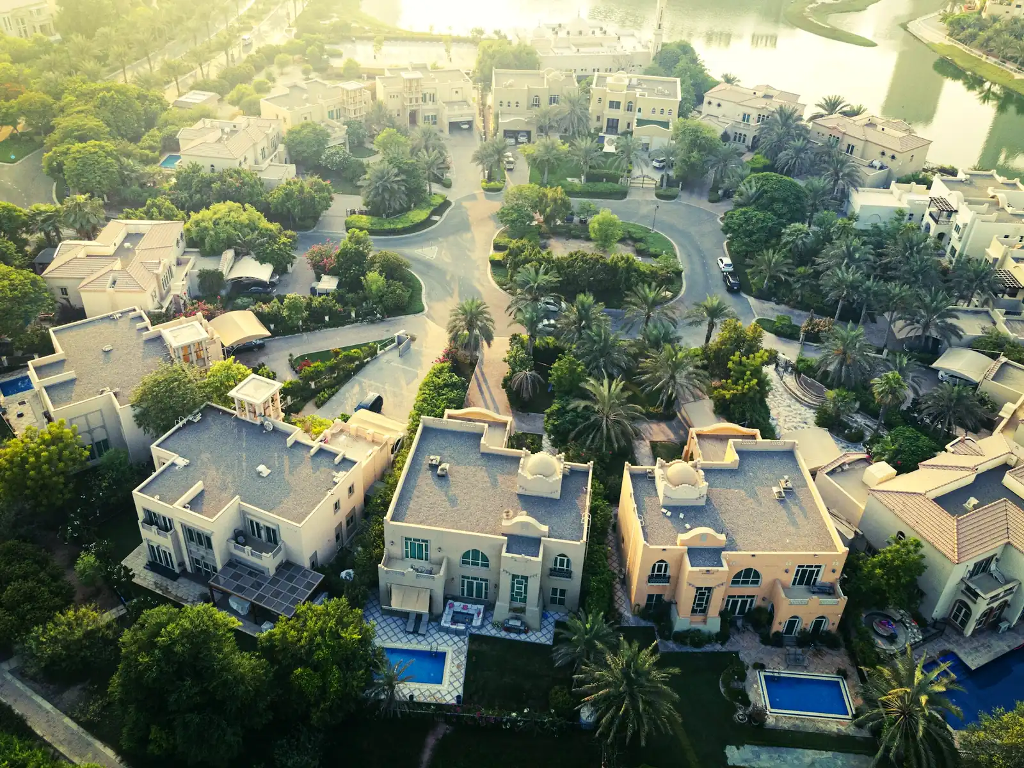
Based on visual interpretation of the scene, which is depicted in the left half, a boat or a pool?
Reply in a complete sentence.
Visible in the left half is a pool.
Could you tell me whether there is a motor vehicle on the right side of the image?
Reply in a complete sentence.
Yes, there is a motor vehicle on the right side of the image.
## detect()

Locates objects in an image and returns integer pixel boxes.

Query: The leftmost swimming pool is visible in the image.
[0,372,33,399]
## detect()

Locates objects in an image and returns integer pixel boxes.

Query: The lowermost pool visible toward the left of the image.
[355,636,456,693]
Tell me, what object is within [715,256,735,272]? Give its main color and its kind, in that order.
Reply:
white car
